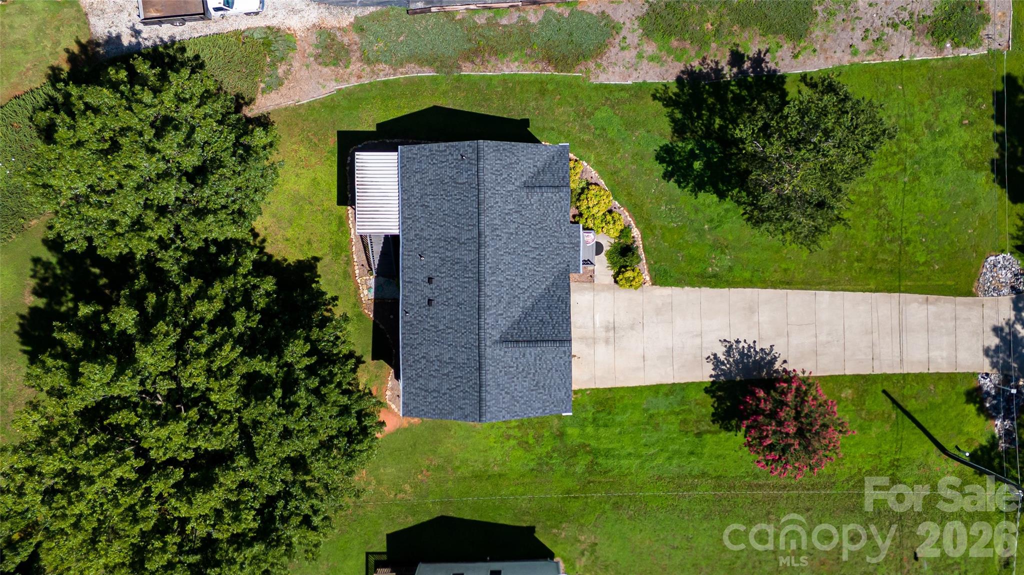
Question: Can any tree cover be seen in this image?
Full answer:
Yes, the picture does contain tree cover.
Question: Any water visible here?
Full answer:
No, the picture contains no water.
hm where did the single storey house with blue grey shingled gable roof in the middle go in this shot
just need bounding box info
[396,140,583,423]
